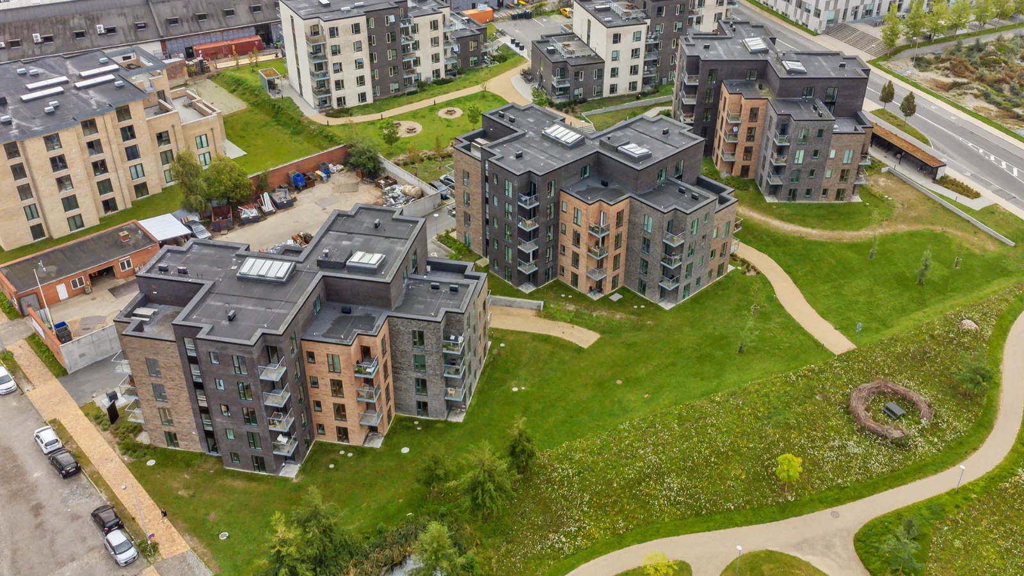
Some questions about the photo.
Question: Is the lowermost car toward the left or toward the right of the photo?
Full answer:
The lowermost car sits on the left side.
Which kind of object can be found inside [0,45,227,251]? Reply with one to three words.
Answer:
building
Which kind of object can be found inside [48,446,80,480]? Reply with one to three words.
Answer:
car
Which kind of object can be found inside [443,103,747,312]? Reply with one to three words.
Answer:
building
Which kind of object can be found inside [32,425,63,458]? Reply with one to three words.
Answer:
car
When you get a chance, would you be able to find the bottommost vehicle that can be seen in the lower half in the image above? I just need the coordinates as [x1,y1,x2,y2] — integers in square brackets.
[103,526,139,572]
